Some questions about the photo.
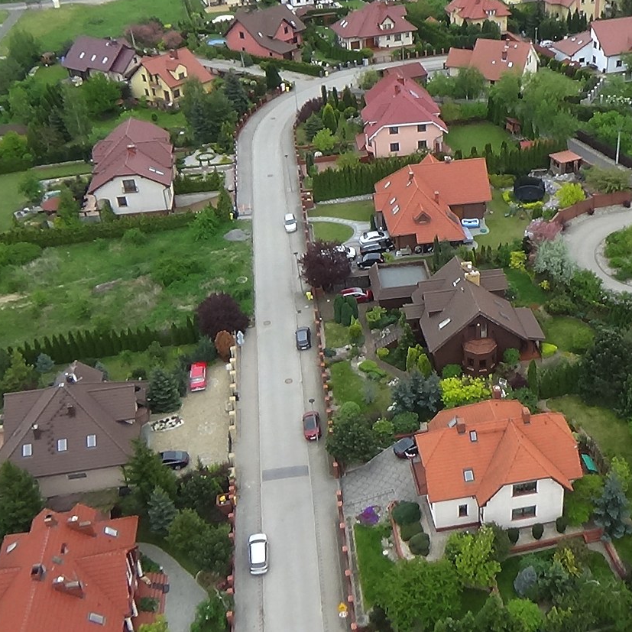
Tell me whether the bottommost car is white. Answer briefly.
Yes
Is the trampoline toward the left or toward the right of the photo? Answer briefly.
right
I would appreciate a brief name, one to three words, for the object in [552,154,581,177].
shed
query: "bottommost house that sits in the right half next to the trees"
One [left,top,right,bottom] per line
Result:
[413,385,583,528]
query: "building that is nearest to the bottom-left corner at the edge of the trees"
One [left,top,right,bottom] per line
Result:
[0,489,148,632]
